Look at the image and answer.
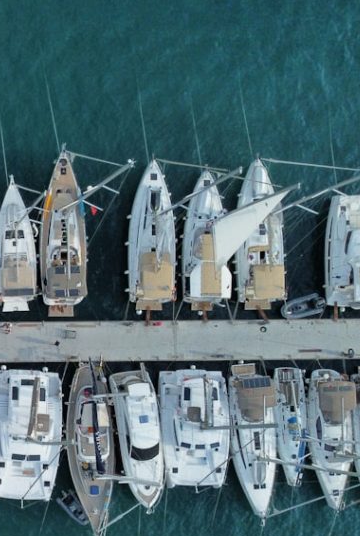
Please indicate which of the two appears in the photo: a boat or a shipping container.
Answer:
boat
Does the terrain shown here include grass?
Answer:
No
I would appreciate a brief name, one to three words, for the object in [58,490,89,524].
boat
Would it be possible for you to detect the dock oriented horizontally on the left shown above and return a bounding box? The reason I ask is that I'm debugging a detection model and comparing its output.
[0,319,178,363]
